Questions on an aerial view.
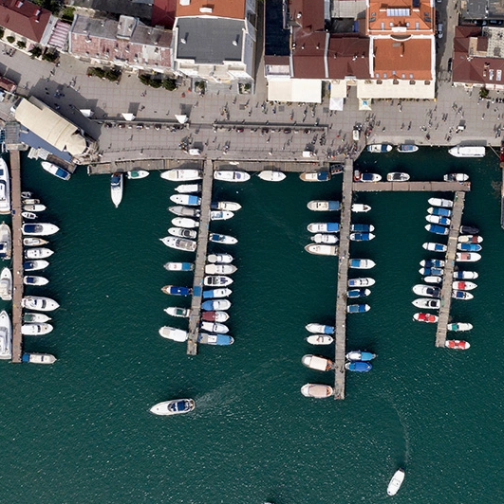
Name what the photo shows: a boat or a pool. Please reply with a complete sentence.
Of the two, only a boat appears.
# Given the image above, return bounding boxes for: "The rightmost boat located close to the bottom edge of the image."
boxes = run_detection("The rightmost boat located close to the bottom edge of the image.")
[387,469,405,495]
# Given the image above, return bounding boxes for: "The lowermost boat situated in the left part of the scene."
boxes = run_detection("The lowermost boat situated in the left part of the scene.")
[150,398,196,415]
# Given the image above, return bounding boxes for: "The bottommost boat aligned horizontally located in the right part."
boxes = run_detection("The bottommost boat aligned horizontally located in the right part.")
[301,384,332,399]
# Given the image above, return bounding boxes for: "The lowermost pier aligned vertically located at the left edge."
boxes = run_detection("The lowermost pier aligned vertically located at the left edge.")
[9,143,24,362]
